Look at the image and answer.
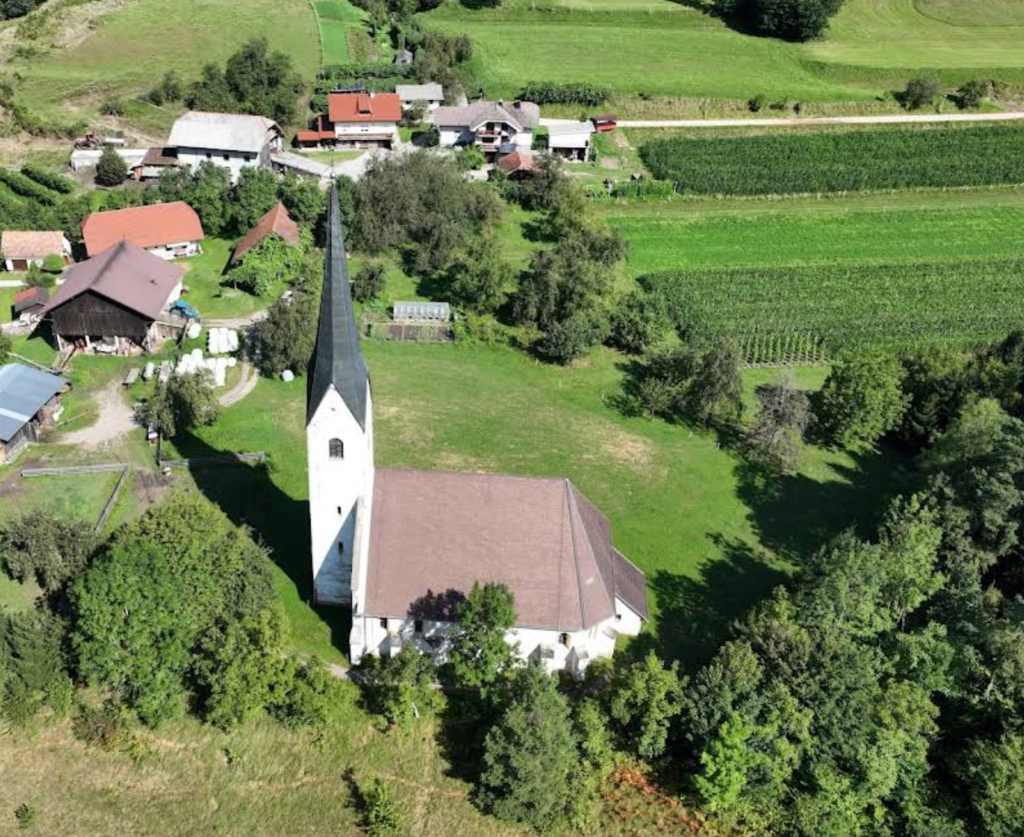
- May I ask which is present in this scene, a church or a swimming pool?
church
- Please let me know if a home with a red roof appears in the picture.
Yes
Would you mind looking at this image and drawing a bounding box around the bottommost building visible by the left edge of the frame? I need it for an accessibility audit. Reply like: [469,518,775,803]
[0,356,67,461]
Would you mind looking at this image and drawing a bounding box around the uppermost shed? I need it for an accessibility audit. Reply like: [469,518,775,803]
[394,43,414,68]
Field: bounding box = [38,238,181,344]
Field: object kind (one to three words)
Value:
barn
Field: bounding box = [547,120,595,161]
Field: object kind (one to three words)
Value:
building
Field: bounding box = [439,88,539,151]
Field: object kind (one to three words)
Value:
house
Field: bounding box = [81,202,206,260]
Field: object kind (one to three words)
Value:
house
